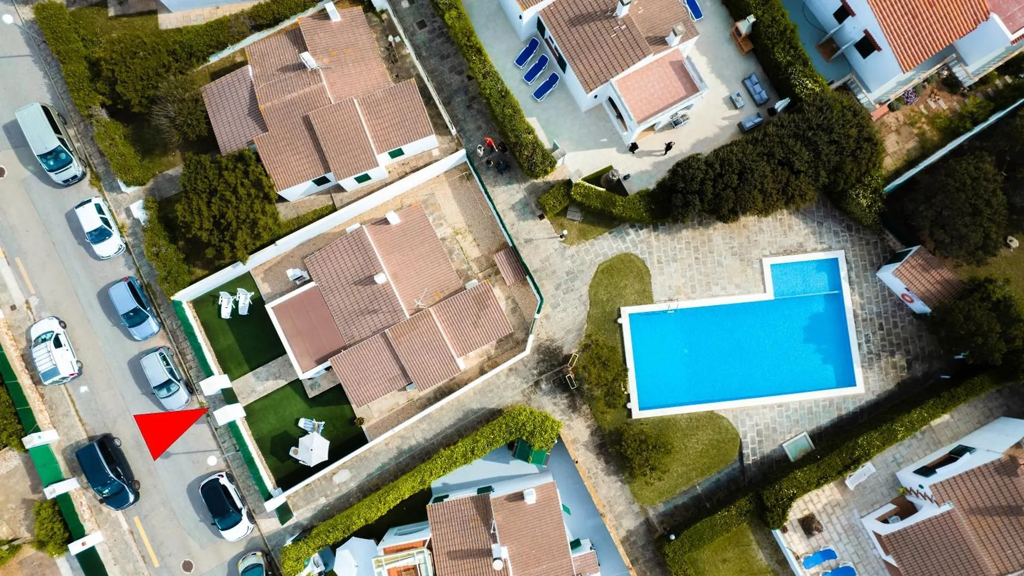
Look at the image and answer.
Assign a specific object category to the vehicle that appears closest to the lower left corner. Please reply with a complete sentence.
The vehicle that appears closest to the lower left corner appears to be a car.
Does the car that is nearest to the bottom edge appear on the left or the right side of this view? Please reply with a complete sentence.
The car that is nearest to the bottom edge sits on the left side.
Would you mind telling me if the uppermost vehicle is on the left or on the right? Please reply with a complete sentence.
The uppermost vehicle sits on the left side.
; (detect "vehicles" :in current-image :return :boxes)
[200,474,250,540]
[138,344,190,411]
[18,107,83,184]
[76,437,135,510]
[240,550,276,576]
[72,194,125,259]
[26,317,81,386]
[105,276,159,341]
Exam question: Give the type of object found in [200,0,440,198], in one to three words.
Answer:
house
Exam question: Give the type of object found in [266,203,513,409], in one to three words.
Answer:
house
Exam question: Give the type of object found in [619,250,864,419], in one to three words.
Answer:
swimming pool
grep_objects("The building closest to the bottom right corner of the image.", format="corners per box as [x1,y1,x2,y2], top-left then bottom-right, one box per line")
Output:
[860,415,1024,576]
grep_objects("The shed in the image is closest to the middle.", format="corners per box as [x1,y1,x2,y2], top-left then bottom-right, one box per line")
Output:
[493,246,527,286]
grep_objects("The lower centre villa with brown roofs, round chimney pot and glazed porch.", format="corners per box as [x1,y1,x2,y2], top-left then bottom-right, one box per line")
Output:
[371,464,600,576]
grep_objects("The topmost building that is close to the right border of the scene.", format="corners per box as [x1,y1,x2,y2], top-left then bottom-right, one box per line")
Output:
[807,0,1024,95]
